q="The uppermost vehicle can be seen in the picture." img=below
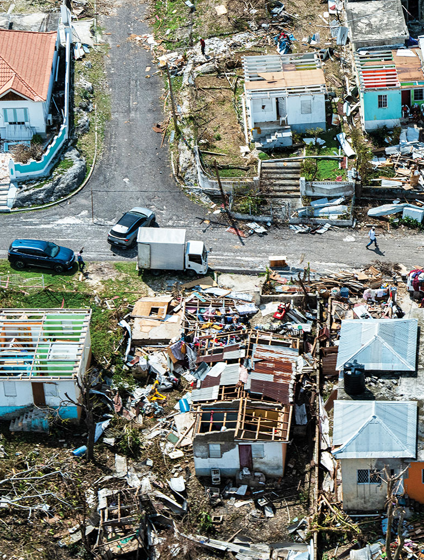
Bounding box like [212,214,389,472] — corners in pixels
[108,202,167,246]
